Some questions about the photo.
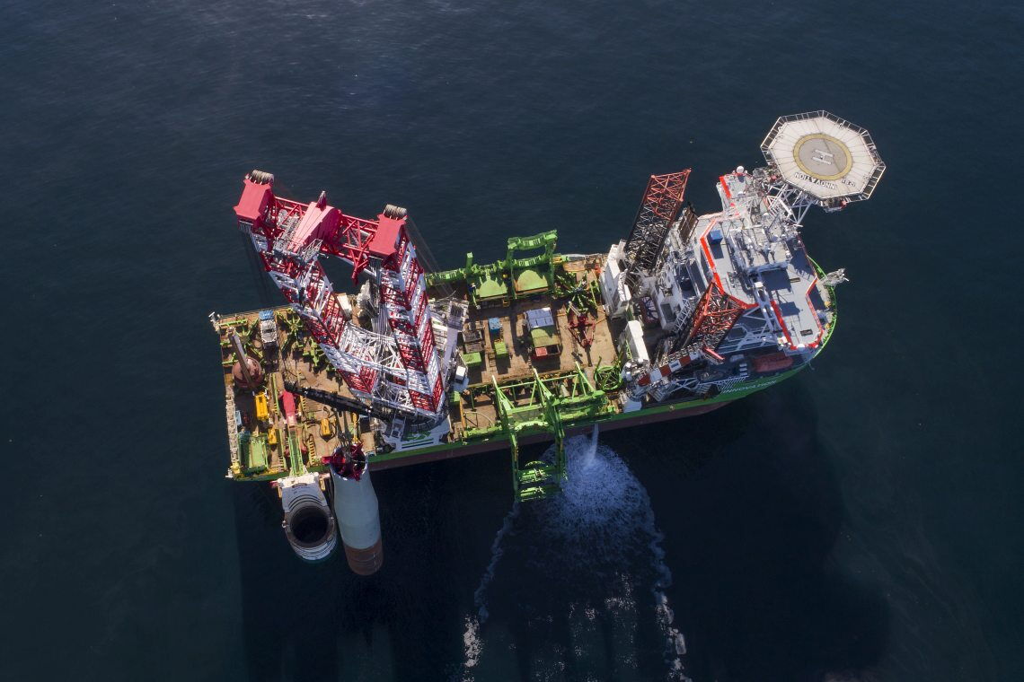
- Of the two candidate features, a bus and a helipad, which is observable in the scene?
helipad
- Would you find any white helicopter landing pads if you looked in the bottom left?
No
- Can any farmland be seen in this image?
No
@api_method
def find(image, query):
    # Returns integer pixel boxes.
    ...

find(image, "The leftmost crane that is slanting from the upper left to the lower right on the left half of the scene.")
[230,168,470,451]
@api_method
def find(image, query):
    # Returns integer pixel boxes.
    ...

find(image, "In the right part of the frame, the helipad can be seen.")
[760,111,888,264]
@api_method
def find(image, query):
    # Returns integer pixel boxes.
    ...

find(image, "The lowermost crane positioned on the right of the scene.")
[620,339,716,410]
